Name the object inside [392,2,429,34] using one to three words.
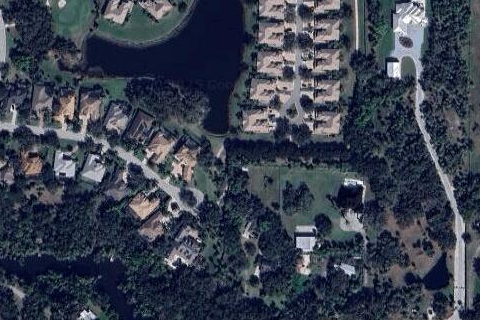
house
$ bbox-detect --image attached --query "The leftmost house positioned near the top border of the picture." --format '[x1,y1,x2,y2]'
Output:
[101,0,133,24]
